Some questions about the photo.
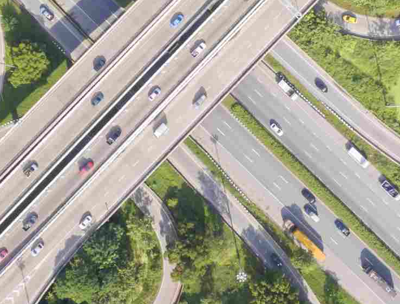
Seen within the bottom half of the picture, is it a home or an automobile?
automobile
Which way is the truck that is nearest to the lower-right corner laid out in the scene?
at an angle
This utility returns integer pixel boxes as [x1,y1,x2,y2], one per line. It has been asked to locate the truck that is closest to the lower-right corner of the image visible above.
[359,260,398,299]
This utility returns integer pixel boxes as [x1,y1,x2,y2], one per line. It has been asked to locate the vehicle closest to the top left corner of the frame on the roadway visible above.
[40,5,55,22]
